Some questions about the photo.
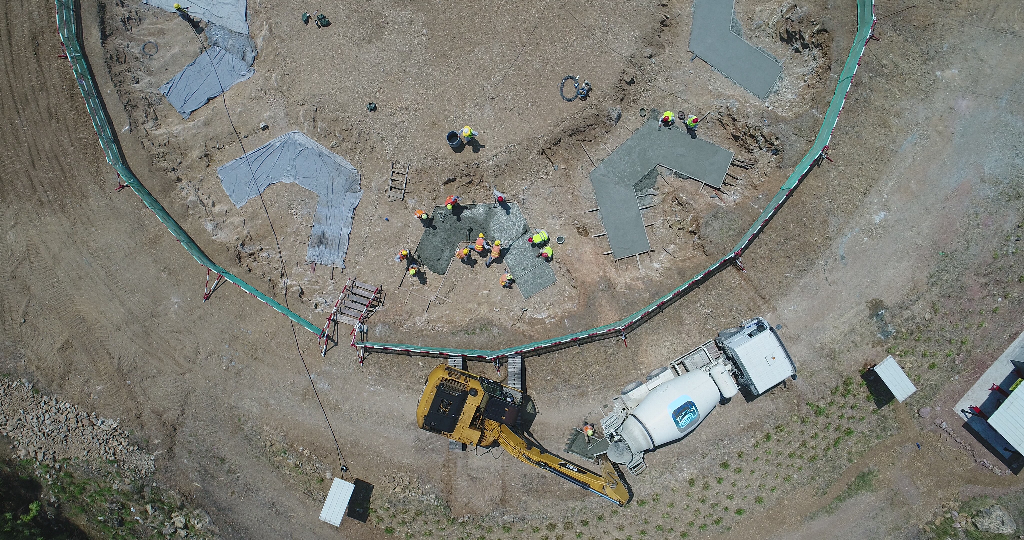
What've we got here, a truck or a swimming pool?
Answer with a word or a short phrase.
truck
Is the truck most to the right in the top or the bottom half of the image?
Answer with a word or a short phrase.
bottom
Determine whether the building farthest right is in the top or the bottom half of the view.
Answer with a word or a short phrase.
bottom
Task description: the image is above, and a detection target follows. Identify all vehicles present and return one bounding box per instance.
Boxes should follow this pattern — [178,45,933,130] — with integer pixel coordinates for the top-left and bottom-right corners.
[413,352,634,513]
[585,313,807,477]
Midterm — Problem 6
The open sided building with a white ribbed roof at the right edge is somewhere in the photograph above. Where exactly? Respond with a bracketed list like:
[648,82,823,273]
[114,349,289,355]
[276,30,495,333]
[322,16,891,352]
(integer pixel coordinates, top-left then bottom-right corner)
[950,331,1024,476]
